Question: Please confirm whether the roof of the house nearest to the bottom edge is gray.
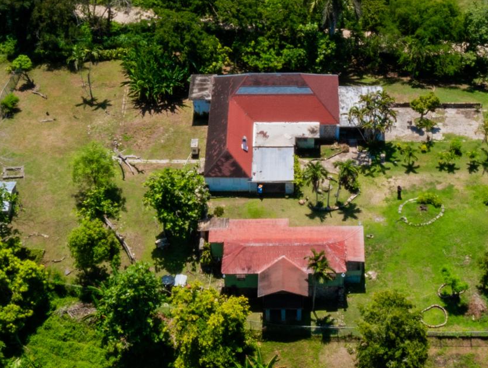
No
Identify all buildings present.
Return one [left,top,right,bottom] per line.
[189,72,383,201]
[200,216,366,322]
[0,181,18,222]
